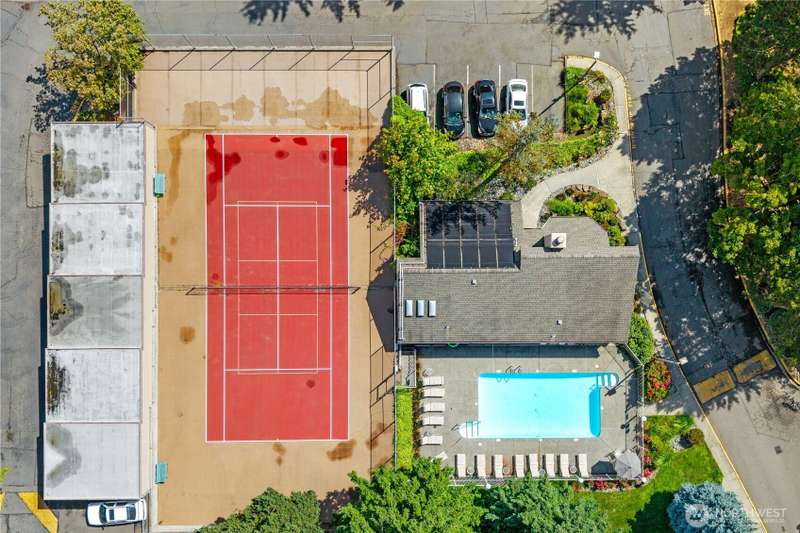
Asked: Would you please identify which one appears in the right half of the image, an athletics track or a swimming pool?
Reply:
swimming pool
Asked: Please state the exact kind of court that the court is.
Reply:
tennis court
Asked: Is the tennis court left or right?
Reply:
left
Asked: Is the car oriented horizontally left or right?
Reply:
left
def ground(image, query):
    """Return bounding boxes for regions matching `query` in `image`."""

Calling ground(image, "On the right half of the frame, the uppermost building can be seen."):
[400,201,640,347]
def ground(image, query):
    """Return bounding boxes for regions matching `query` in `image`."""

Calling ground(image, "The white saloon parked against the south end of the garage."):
[88,499,149,528]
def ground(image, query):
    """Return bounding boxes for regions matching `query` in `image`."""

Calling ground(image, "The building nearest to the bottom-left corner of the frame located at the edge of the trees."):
[43,120,155,500]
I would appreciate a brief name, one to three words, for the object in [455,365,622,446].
swimming pool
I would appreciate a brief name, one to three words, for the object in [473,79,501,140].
car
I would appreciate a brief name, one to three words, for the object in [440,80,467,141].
car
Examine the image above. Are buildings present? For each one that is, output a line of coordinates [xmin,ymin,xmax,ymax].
[43,120,155,500]
[400,201,640,347]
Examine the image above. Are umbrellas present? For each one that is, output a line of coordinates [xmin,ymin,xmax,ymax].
[614,450,642,478]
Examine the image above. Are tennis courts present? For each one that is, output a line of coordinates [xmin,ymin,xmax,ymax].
[133,50,392,525]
